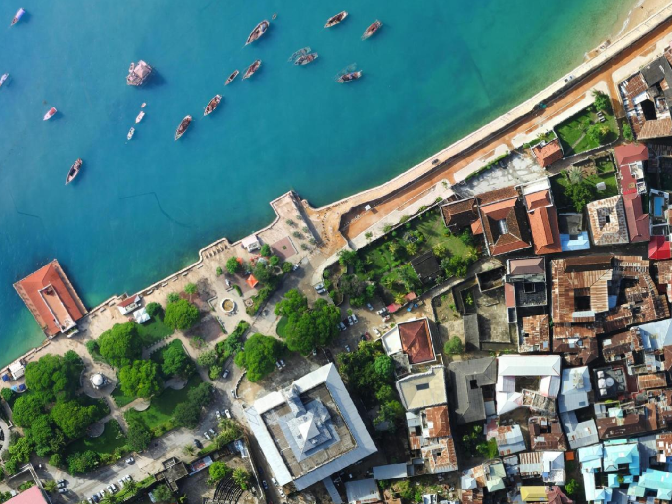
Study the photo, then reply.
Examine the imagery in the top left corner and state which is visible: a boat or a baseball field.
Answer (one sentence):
Visible in the top left corner is a boat.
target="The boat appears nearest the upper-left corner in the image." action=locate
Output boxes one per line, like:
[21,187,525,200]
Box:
[11,8,25,28]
